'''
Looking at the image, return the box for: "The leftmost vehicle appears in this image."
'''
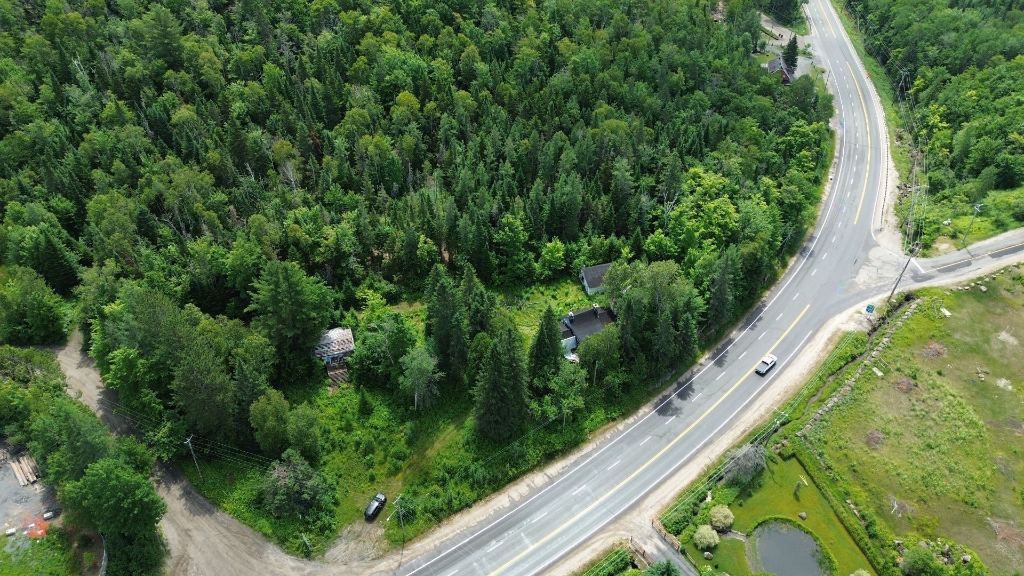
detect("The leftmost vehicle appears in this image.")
[363,494,386,522]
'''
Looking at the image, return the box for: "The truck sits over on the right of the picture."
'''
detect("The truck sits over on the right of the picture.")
[754,356,779,378]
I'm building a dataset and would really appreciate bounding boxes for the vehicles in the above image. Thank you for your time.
[754,356,779,378]
[363,494,386,522]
